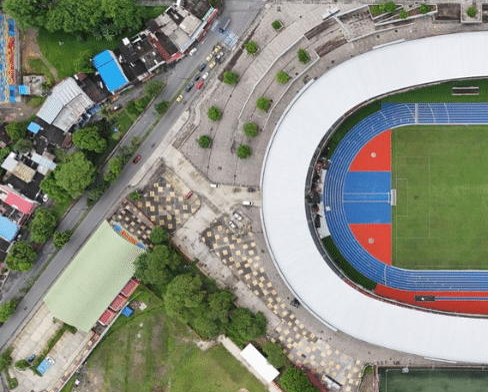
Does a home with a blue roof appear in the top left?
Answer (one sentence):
Yes, the scene does show a home with a blue roof in the top left.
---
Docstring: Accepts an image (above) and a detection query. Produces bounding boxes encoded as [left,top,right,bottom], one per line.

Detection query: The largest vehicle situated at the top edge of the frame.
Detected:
[216,18,230,35]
